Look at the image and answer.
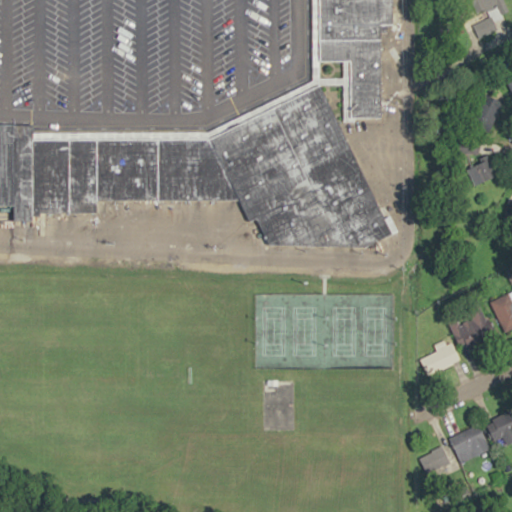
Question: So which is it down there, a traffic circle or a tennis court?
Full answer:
This aerial view contains a tennis court.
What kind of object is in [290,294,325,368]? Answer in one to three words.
tennis court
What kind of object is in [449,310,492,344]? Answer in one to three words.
house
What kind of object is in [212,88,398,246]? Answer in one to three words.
building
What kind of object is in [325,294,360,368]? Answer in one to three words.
tennis court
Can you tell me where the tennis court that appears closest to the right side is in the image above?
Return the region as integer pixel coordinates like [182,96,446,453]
[360,294,394,368]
